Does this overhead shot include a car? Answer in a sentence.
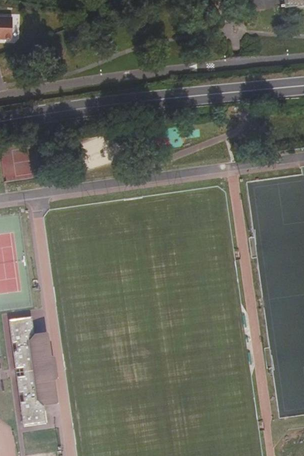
No, there's no car here.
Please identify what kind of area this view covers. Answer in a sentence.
It's a sports ground.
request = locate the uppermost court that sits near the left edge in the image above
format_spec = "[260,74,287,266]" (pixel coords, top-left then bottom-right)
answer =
[0,146,34,183]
